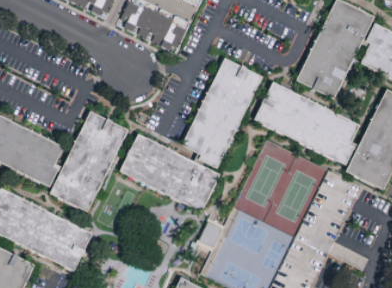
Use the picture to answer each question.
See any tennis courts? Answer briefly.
Yes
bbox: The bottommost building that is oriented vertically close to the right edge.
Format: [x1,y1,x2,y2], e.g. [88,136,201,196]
[346,90,392,192]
